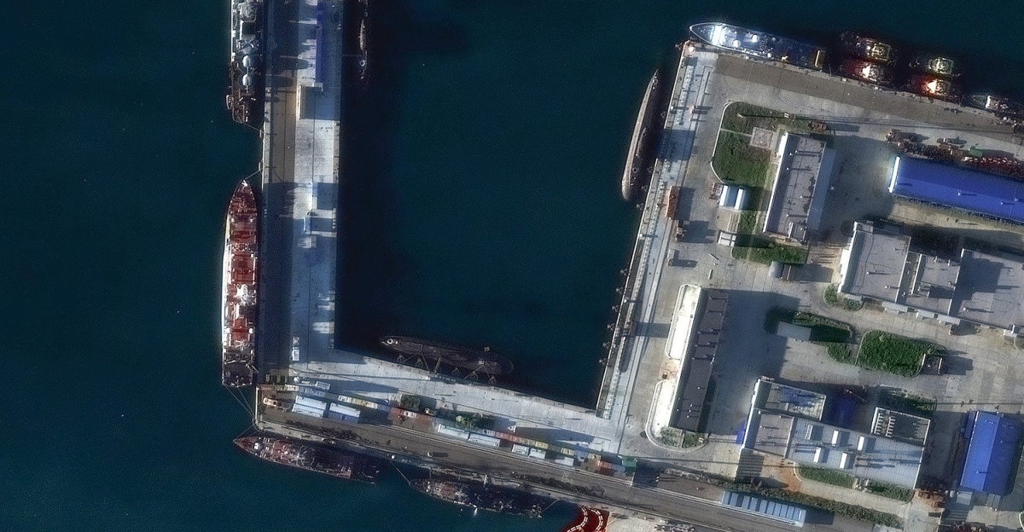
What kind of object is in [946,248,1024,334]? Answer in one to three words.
building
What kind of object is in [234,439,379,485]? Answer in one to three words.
ship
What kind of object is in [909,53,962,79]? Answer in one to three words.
boat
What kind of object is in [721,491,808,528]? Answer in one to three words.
shed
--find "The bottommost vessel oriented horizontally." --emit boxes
[410,481,545,520]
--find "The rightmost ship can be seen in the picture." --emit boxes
[973,94,1024,120]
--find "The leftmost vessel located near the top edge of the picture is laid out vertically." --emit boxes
[226,0,263,129]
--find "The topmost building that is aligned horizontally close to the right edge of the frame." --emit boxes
[889,155,1024,225]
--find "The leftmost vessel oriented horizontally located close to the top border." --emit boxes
[690,22,825,70]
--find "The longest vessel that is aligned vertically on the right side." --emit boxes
[622,70,659,201]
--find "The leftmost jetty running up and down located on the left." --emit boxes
[256,0,342,385]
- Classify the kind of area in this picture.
port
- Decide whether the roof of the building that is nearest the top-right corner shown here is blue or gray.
blue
